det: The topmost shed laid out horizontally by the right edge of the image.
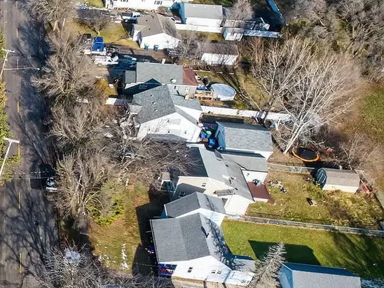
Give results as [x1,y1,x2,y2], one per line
[314,165,369,194]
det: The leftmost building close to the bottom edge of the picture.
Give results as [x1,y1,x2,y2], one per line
[138,209,261,285]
